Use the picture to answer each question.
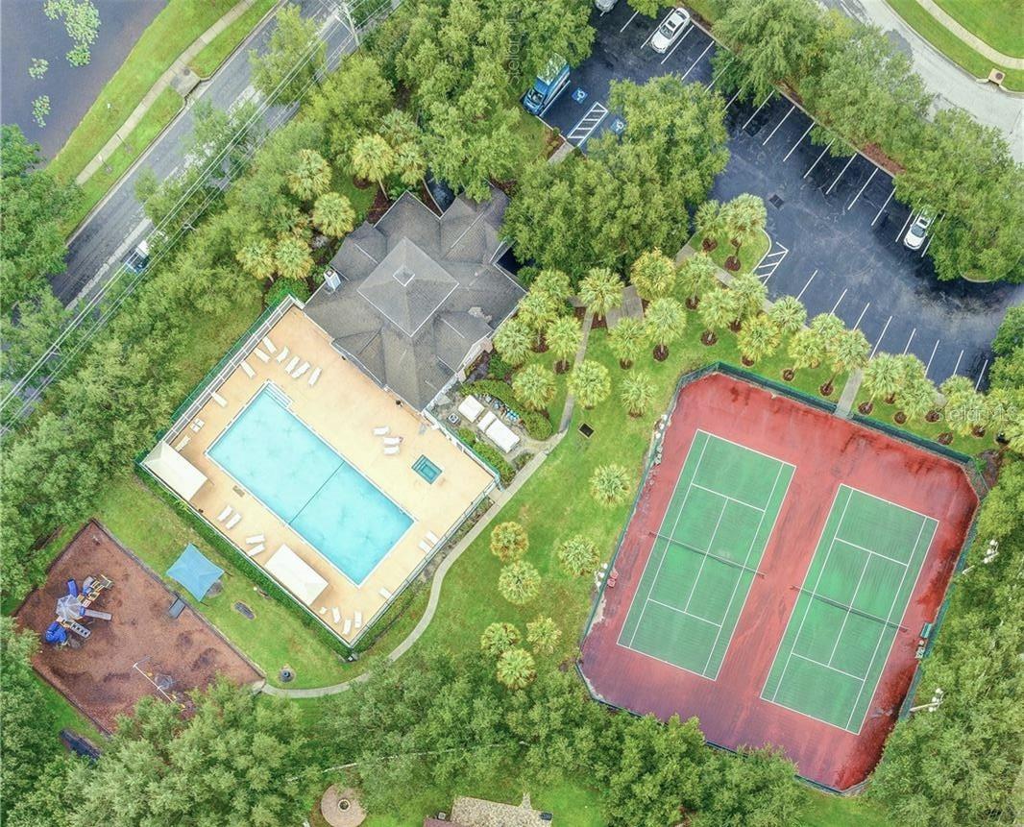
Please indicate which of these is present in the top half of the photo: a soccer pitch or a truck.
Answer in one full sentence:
You can see a truck in the top half of the photo.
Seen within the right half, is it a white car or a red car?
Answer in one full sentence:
The one visible within the right half is a white car.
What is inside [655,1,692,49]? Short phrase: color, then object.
white car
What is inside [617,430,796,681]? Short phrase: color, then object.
green tennis court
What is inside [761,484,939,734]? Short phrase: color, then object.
green tennis court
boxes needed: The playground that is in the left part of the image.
[21,524,258,734]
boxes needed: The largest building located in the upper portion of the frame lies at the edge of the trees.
[304,189,526,419]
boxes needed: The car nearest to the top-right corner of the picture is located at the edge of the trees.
[908,202,942,247]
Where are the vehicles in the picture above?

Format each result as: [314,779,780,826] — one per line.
[121,235,158,276]
[908,202,942,247]
[655,1,692,49]
[596,0,618,13]
[524,50,571,122]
